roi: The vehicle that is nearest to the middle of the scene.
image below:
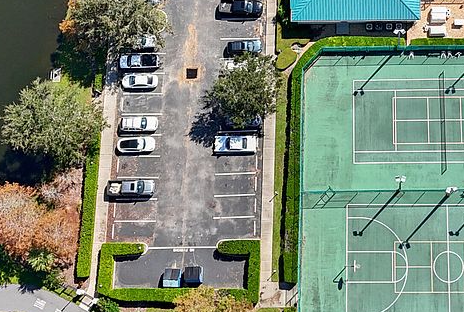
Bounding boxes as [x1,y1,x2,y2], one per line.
[214,134,260,153]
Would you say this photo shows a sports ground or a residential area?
sports ground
